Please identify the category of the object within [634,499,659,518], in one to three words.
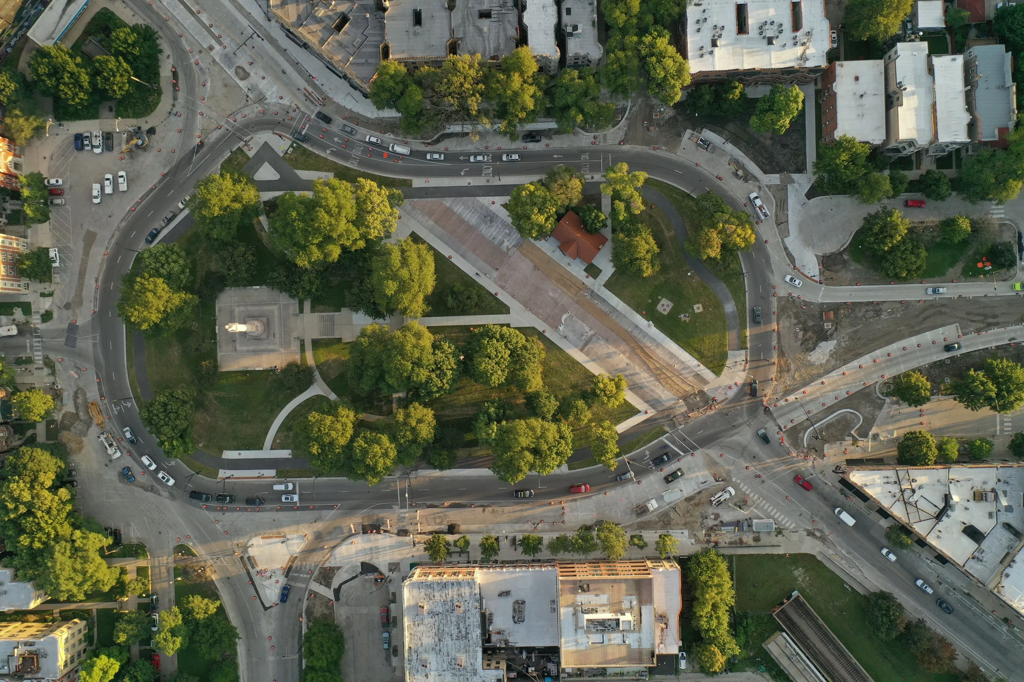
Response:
vehicle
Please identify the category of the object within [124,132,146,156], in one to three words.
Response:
work vehicle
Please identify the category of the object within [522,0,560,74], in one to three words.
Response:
house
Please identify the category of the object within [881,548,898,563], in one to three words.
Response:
car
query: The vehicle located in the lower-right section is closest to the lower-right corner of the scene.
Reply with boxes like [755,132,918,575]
[937,599,955,615]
